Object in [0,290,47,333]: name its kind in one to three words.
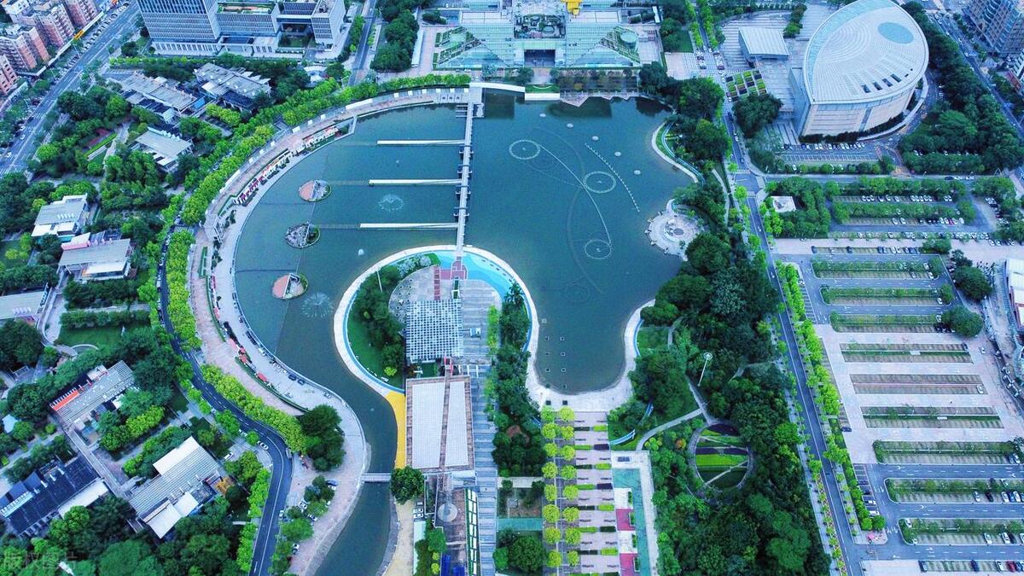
building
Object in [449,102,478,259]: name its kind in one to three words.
bridge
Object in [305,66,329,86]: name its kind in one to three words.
shed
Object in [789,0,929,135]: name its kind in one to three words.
building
